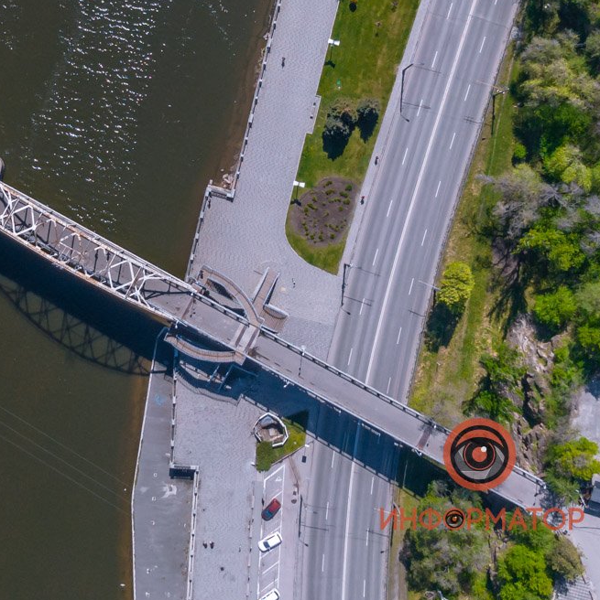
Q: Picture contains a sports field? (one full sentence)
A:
No, no sports field is visible in the view.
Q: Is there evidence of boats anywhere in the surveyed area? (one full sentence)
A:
No, I can see no boat in this picture.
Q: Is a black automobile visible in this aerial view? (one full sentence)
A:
No, I can see no black automobile in this picture.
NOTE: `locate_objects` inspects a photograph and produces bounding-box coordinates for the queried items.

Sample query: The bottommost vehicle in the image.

[254,587,280,600]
